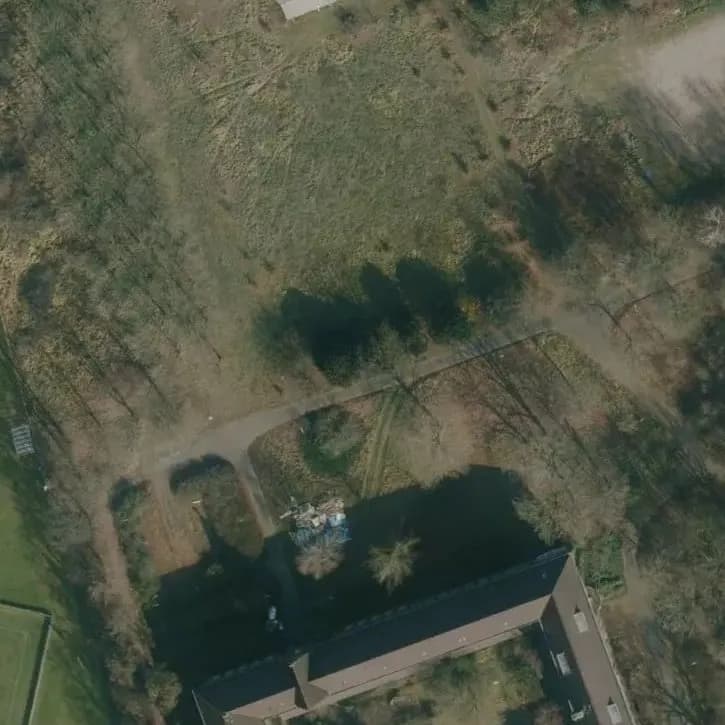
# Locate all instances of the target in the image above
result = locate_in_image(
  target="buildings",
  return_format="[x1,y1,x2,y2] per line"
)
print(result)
[189,547,640,725]
[278,0,331,20]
